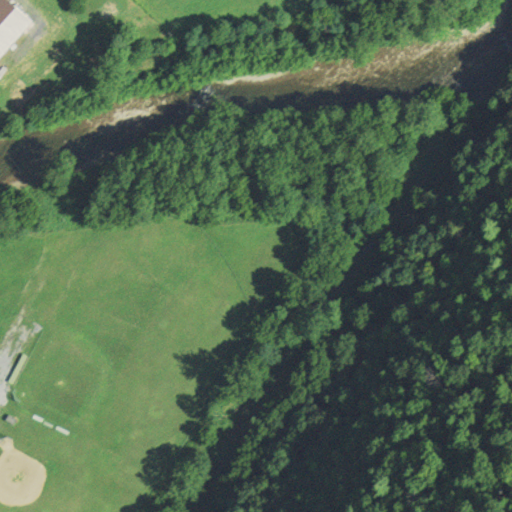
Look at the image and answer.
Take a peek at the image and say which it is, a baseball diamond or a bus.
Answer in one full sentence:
It is a baseball diamond that can be seen here.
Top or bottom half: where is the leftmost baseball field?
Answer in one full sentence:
Seen from above, the leftmost baseball field lies in the bottom half of the view.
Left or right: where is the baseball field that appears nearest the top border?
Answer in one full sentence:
The baseball field that appears nearest the top border sits on the left side.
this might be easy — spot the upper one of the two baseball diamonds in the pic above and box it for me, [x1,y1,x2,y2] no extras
[19,318,114,422]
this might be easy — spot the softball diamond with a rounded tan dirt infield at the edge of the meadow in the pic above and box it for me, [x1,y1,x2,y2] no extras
[0,436,48,508]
